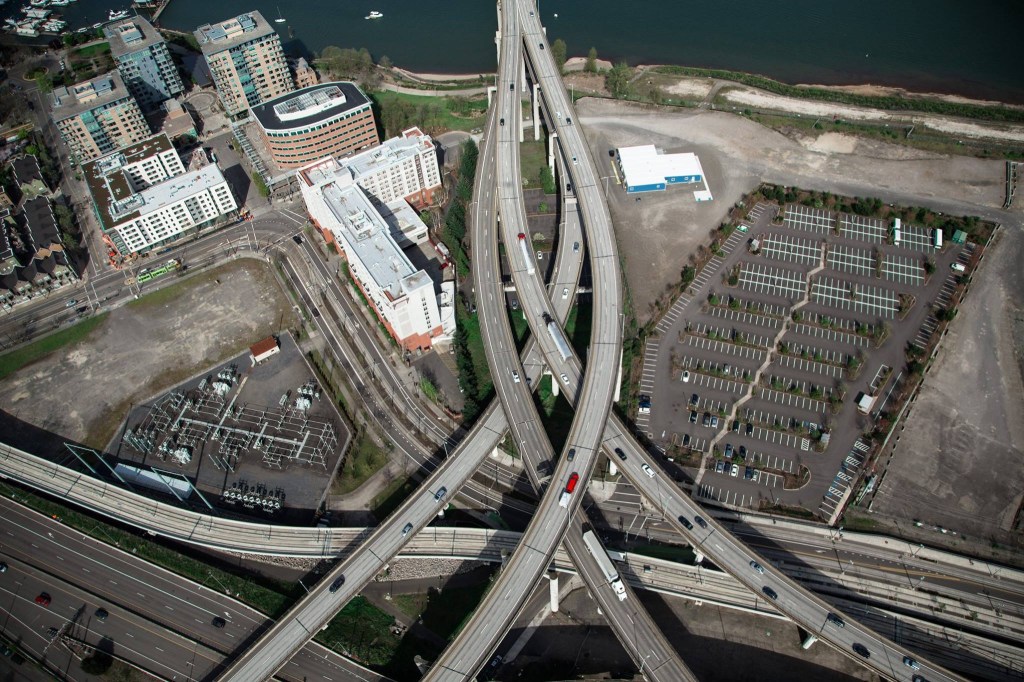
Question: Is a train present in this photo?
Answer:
Yes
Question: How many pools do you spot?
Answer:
0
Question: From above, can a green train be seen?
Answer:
Yes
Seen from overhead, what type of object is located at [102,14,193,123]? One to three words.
building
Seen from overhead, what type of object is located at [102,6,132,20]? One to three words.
boat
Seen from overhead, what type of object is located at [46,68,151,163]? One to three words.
building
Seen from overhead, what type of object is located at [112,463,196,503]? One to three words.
shed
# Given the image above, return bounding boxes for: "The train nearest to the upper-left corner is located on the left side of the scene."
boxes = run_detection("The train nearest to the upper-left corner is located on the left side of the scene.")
[136,260,180,284]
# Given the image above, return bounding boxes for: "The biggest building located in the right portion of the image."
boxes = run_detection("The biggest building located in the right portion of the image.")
[617,145,701,193]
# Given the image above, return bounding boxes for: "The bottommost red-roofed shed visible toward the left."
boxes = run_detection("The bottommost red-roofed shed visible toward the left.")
[249,336,280,361]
